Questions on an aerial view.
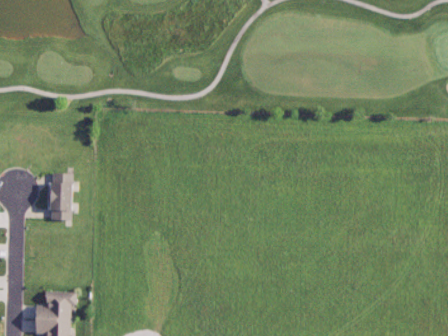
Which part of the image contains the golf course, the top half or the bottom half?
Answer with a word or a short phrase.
top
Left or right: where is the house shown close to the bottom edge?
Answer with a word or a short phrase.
left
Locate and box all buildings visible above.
[50,168,74,226]
[36,292,75,336]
